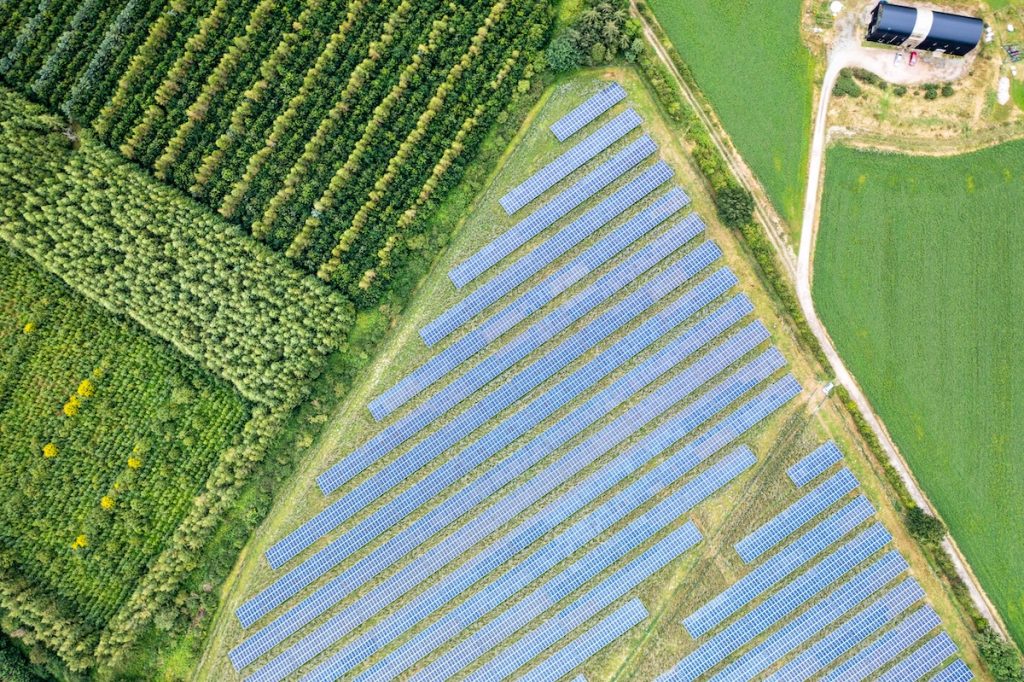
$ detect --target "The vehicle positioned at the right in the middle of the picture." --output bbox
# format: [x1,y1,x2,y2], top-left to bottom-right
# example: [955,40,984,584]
[822,382,835,395]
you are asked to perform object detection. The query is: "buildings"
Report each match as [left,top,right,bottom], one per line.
[867,2,986,57]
